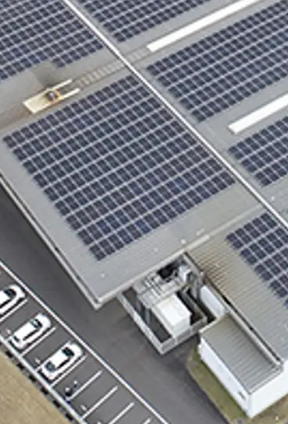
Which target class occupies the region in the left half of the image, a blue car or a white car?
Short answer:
white car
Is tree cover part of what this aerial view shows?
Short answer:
No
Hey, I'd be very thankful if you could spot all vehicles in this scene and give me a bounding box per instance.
[13,316,52,349]
[61,378,80,393]
[41,342,86,379]
[0,285,27,318]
